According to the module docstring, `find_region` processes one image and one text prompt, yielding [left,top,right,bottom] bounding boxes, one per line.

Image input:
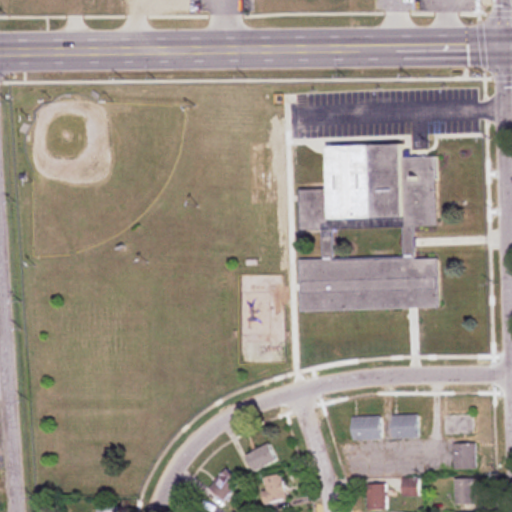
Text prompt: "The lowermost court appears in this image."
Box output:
[242,275,286,362]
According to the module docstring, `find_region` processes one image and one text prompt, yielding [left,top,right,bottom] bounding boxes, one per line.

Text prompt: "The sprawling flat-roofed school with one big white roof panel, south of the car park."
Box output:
[298,144,442,310]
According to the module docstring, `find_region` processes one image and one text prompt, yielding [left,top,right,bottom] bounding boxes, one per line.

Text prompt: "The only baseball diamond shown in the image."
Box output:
[32,96,186,256]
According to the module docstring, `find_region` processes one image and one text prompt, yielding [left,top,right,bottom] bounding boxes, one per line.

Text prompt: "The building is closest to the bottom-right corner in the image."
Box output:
[454,482,478,506]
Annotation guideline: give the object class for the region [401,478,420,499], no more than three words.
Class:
building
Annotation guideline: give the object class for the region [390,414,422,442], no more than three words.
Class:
house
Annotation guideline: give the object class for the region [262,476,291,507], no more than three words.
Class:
house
